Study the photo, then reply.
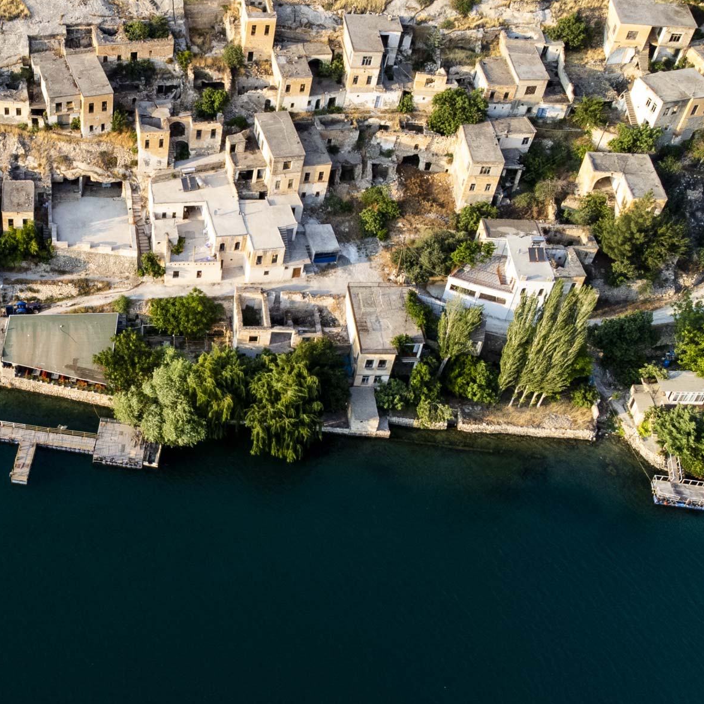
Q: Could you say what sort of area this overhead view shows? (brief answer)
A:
residential area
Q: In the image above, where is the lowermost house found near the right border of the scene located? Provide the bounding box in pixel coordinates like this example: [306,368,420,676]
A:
[626,370,704,423]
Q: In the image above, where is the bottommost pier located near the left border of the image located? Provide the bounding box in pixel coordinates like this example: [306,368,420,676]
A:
[0,417,150,483]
